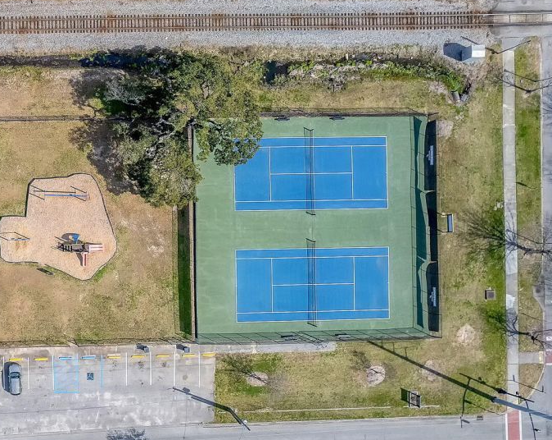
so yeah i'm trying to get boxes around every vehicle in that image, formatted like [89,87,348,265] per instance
[8,362,23,396]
